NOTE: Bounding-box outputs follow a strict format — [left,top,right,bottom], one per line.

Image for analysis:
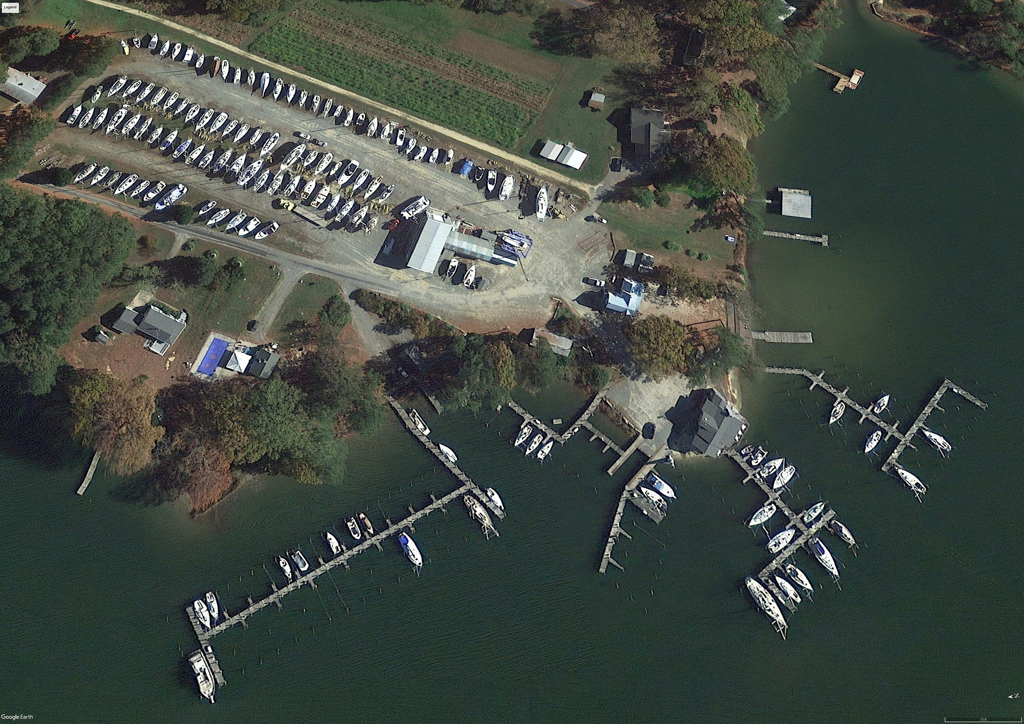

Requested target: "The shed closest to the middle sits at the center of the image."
[535,327,572,355]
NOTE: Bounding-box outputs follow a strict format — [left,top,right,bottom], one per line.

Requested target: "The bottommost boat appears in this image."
[187,648,215,704]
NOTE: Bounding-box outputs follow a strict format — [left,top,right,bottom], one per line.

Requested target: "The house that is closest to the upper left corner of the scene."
[0,69,47,104]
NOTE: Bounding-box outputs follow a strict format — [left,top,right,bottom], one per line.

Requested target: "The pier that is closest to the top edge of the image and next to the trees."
[812,62,852,93]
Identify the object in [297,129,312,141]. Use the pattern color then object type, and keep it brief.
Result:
white vehicle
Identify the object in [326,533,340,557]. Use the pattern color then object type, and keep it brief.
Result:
white boat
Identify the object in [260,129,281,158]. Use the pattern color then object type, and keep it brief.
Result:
white boat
